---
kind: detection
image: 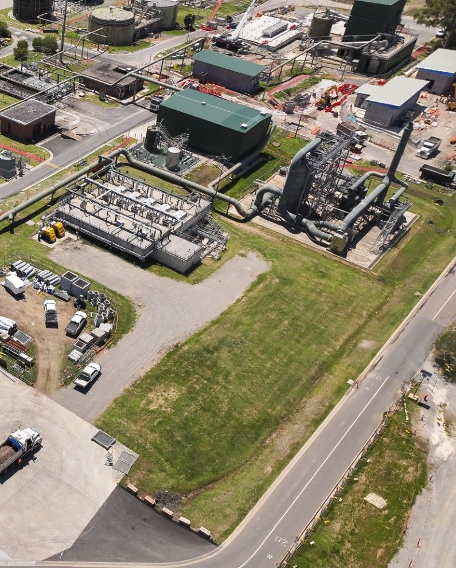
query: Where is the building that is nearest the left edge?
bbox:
[0,99,59,139]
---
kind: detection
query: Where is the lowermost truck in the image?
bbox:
[0,431,42,482]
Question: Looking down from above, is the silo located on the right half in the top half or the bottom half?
top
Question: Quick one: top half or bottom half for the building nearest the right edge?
top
